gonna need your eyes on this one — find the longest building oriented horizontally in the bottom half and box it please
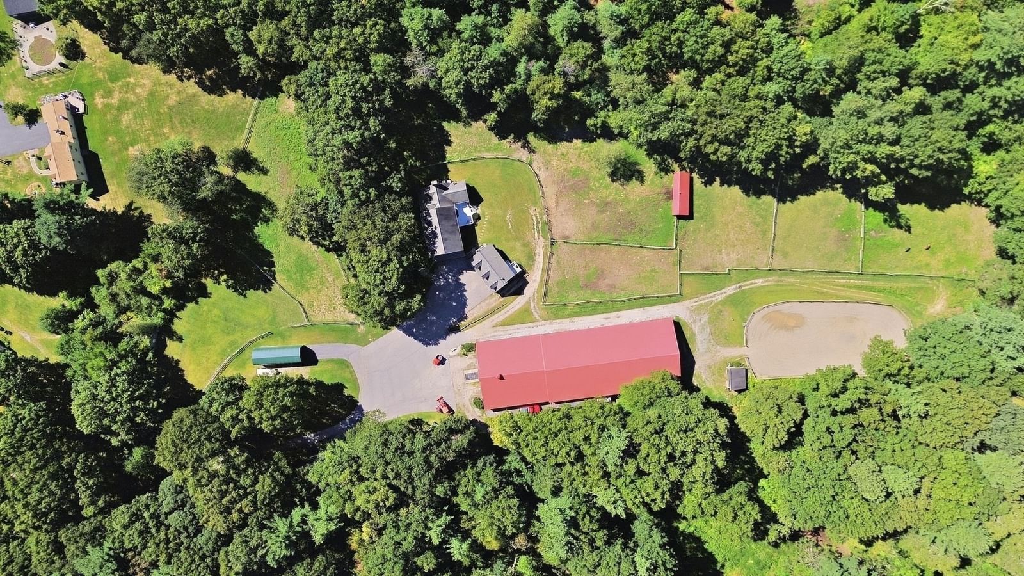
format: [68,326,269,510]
[476,318,682,410]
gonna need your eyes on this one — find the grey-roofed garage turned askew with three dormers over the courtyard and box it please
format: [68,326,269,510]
[472,244,516,292]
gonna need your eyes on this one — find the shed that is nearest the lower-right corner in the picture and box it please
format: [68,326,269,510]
[726,368,746,390]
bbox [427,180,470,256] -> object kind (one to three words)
house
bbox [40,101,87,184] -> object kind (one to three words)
house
